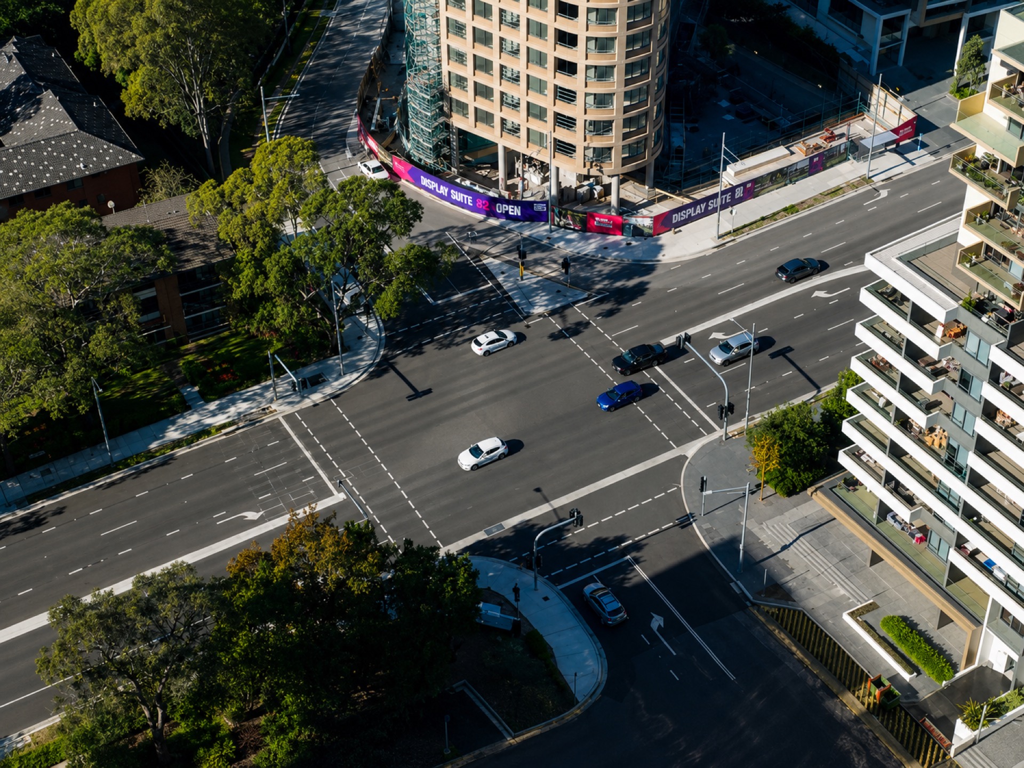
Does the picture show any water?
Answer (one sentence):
No, water can't be seen anywhere here.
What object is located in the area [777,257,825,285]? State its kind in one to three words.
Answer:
car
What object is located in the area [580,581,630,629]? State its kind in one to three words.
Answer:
car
